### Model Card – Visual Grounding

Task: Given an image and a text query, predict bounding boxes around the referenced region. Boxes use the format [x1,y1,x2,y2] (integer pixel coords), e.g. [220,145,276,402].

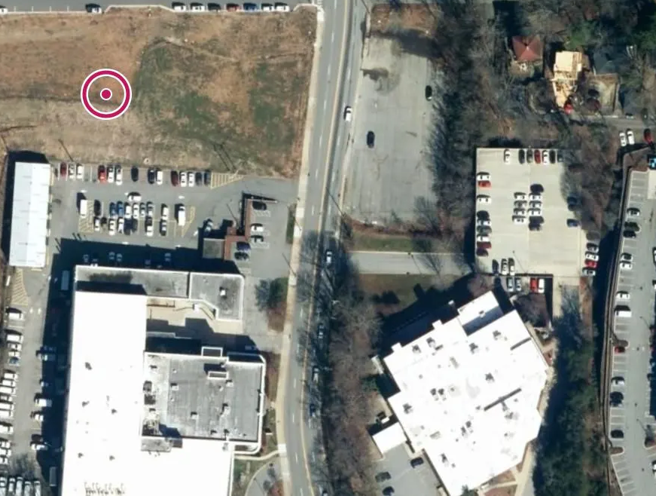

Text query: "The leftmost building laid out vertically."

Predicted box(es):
[9,163,51,267]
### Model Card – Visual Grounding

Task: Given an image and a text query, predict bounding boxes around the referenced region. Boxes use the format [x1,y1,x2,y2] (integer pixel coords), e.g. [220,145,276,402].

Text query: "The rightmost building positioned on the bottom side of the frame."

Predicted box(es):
[371,291,548,496]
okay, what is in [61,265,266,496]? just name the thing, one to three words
building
